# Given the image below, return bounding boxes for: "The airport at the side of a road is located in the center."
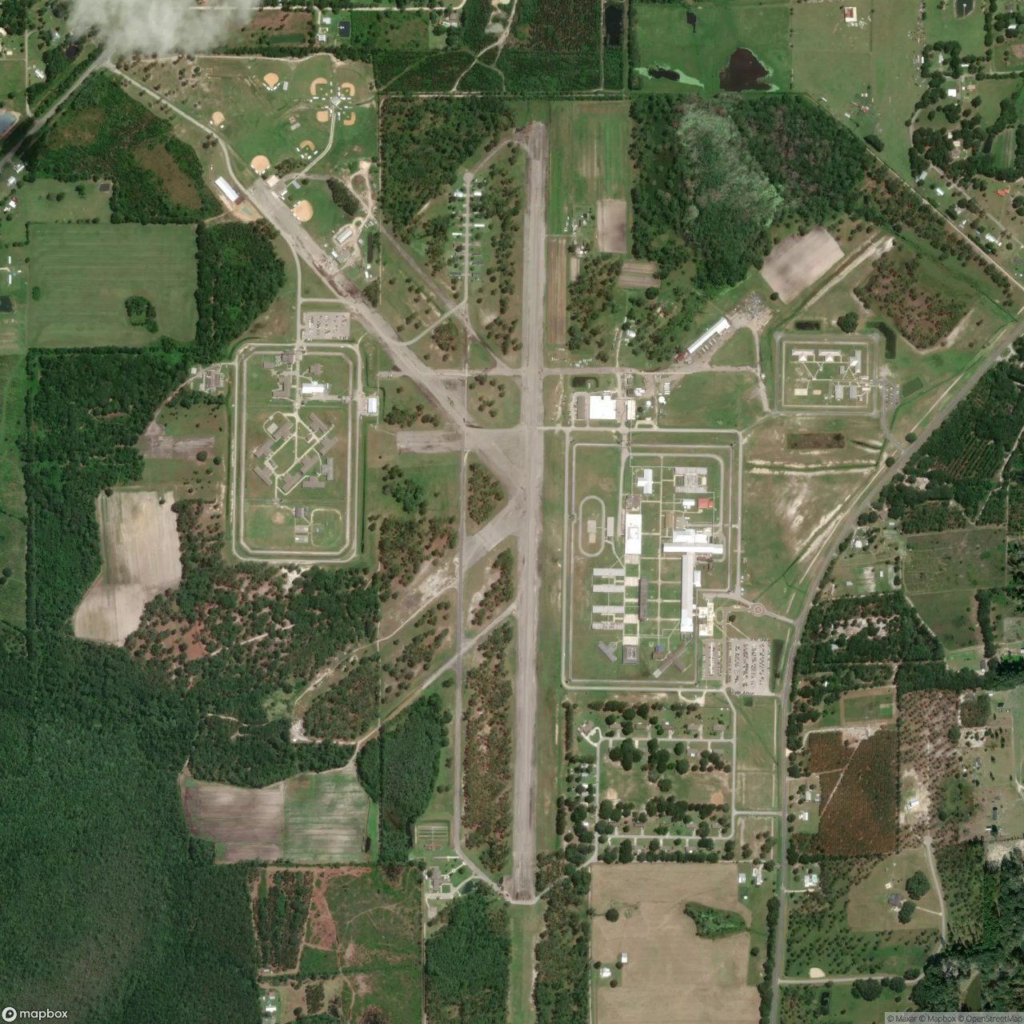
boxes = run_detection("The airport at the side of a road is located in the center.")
[250,122,756,905]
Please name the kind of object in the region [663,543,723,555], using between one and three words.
building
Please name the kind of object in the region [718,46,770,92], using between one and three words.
pond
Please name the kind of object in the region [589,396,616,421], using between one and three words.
building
